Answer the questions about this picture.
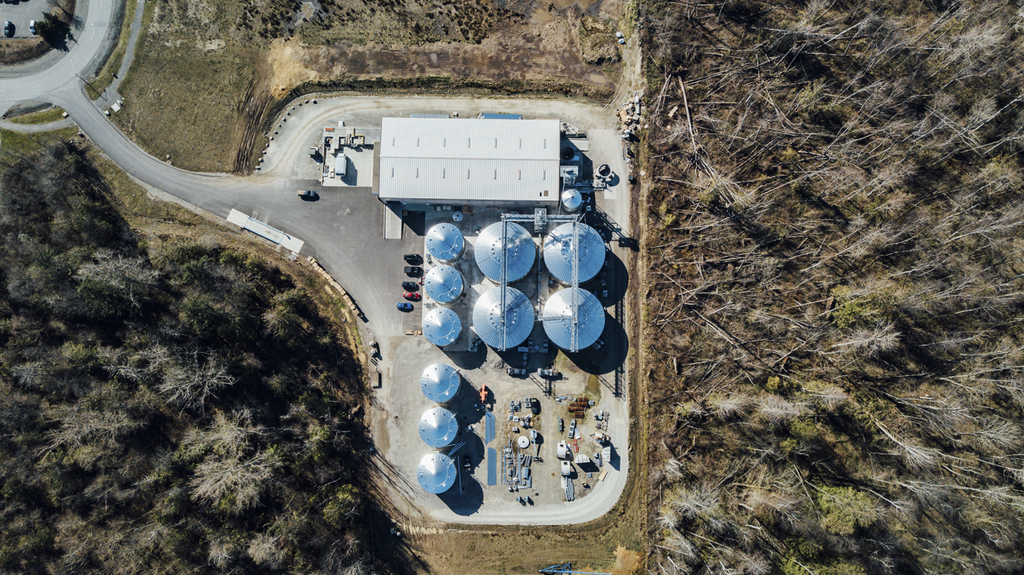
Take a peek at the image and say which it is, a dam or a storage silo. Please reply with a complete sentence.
The one in the frame is a storage silo.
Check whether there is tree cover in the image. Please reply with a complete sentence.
Yes, tree cover shows up in the scene.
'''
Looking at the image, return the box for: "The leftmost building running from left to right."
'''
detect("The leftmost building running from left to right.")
[373,117,560,207]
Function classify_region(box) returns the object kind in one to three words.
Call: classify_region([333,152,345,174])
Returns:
vehicle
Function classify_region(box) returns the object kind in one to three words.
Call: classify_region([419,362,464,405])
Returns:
silo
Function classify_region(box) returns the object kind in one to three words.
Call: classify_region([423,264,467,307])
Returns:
silo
